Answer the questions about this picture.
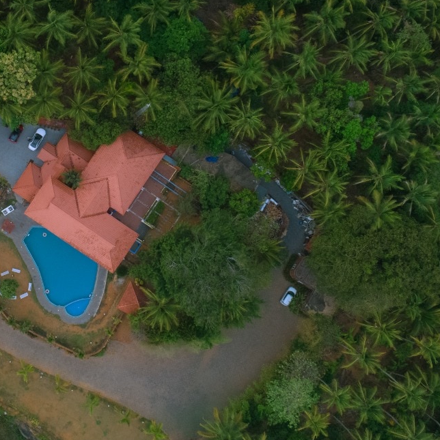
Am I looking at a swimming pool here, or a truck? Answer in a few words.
swimming pool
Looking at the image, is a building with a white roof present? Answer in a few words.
No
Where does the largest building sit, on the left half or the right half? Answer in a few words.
left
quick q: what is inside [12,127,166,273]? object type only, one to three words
building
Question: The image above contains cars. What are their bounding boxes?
[280,286,296,307]
[28,127,45,151]
[6,123,25,144]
